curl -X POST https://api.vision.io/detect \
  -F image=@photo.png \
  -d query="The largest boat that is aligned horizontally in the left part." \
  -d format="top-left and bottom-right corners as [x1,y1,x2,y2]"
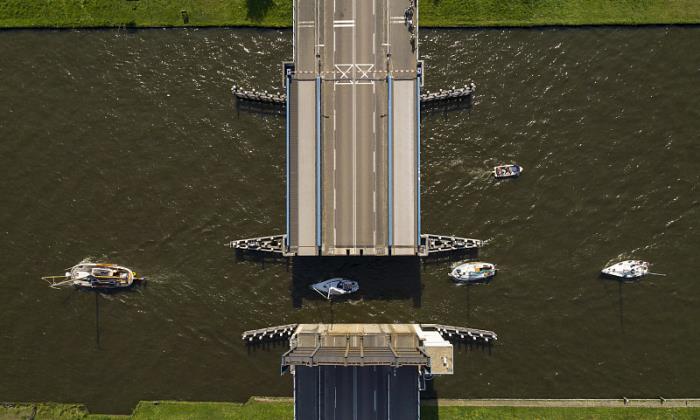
[42,263,146,289]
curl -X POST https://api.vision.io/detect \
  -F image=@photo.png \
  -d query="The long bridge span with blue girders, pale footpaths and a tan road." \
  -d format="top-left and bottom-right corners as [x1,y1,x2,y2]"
[283,0,430,256]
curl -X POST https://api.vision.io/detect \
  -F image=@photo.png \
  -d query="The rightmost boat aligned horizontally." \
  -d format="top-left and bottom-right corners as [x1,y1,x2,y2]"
[600,261,662,280]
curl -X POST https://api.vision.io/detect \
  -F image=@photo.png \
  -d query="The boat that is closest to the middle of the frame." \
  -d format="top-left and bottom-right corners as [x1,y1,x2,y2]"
[312,278,359,298]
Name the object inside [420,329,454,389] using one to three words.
building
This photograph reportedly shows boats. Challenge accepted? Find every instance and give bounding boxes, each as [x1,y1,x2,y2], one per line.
[312,278,359,298]
[448,262,497,281]
[600,261,662,280]
[42,263,146,289]
[492,165,523,179]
